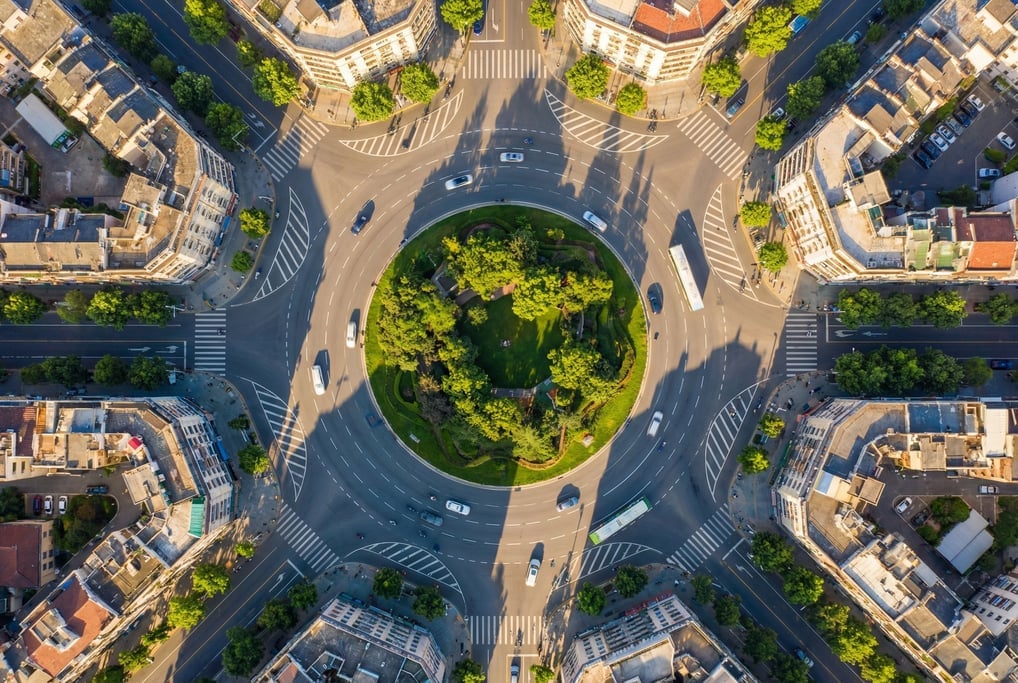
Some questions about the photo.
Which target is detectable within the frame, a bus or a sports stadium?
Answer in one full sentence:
I can see a bus in this picture.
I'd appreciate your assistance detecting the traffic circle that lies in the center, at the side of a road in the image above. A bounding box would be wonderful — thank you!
[196,34,818,656]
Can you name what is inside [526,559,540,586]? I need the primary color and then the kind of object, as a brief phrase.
white vehicle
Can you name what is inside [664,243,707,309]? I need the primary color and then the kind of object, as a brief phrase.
white bus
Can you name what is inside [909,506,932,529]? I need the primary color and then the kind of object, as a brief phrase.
black car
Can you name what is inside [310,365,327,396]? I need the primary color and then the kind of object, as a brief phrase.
white vehicle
